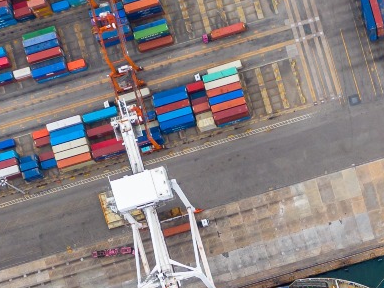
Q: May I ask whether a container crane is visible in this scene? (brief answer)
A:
Yes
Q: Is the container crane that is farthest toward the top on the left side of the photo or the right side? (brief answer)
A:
left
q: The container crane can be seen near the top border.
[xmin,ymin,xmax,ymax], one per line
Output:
[84,0,146,77]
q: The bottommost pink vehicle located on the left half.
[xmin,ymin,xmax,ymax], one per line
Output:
[90,240,134,260]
